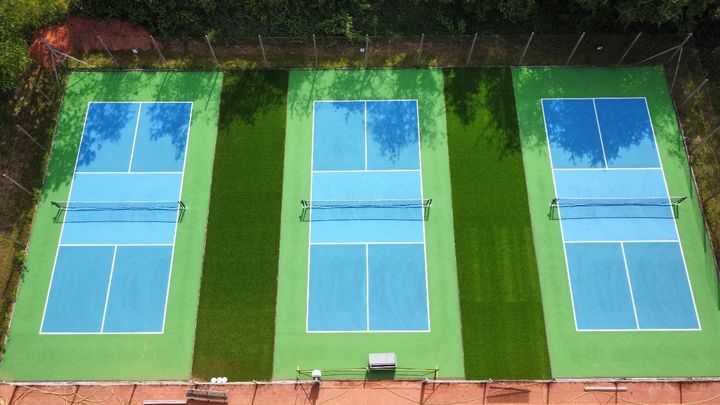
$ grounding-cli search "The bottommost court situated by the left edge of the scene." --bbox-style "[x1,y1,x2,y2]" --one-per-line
[0,70,222,382]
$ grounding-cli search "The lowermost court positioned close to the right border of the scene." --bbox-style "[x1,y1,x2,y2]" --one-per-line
[513,65,720,378]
